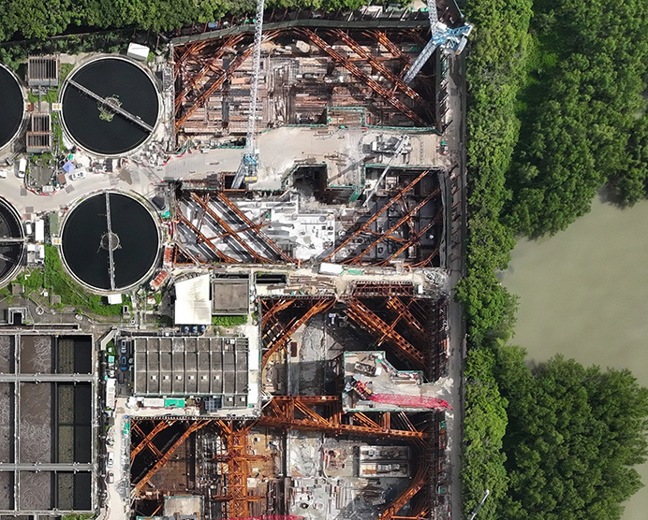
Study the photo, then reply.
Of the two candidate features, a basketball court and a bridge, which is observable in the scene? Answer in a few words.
bridge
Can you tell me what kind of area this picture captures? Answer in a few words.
industrial area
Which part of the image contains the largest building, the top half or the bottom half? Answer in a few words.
bottom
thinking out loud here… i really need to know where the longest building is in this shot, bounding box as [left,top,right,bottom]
[131,336,249,398]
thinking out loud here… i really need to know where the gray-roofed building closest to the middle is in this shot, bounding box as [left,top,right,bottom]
[210,279,249,317]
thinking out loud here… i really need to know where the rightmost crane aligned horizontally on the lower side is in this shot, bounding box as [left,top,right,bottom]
[345,370,455,410]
